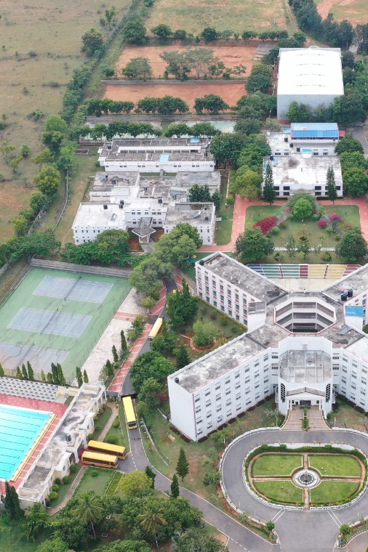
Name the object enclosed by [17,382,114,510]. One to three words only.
building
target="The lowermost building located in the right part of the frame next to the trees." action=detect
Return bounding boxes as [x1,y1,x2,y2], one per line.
[168,251,368,442]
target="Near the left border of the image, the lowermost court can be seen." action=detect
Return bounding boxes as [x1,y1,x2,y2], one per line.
[0,342,69,374]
